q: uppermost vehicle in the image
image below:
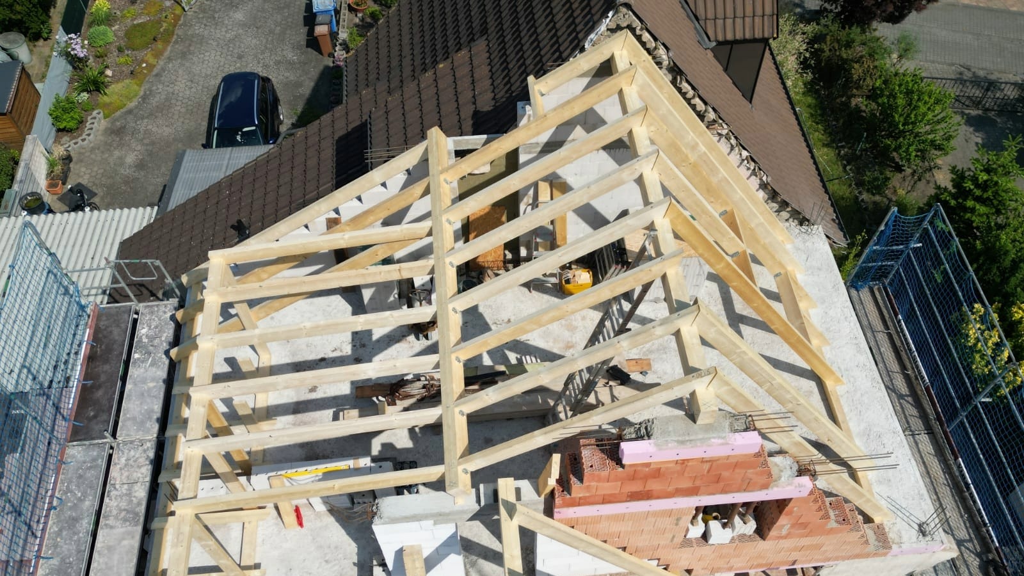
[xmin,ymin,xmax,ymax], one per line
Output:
[200,71,289,150]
